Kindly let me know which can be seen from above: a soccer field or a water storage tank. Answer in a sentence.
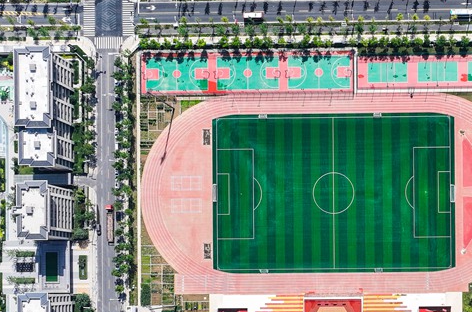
There is a soccer field in the scene.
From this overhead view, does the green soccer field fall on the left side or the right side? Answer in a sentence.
The green soccer field sits on the right side.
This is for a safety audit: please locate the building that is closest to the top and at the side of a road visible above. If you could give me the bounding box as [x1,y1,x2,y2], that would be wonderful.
[14,47,75,136]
